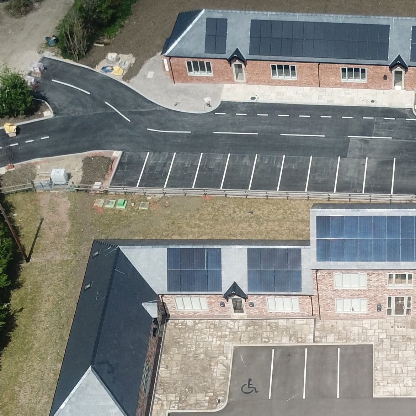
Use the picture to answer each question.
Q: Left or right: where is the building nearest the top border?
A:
right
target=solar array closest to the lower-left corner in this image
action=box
[166,248,222,292]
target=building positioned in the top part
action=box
[163,10,416,89]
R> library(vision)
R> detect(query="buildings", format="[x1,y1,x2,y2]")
[163,10,416,89]
[49,202,416,416]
